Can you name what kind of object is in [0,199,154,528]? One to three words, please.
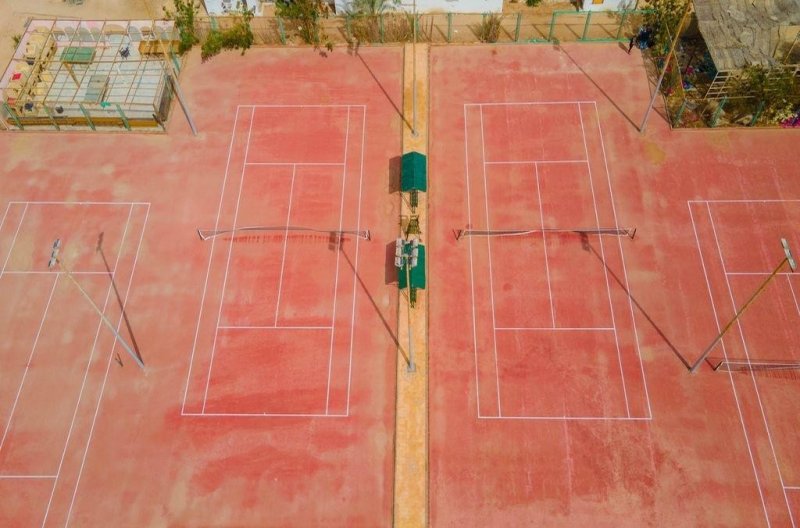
tennis court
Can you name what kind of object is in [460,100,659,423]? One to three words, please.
tennis court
